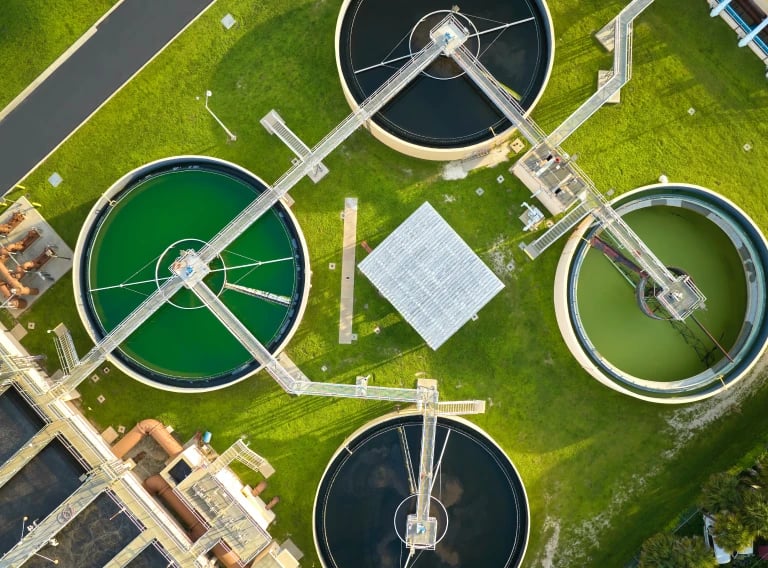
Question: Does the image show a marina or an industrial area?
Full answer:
The picture captures an industrial area.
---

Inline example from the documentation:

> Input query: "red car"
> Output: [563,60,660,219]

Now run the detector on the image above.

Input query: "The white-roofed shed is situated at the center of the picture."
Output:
[358,202,504,349]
